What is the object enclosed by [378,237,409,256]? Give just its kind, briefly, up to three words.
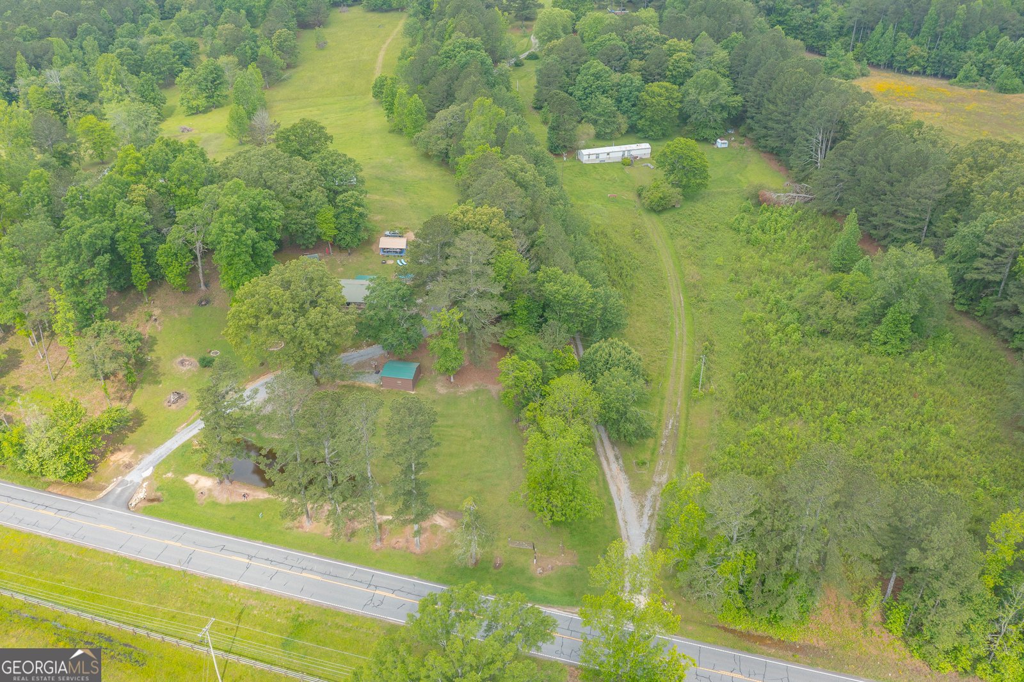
building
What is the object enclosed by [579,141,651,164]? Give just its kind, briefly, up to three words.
house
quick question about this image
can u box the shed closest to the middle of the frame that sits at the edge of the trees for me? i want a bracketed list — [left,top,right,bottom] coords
[379,357,424,392]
